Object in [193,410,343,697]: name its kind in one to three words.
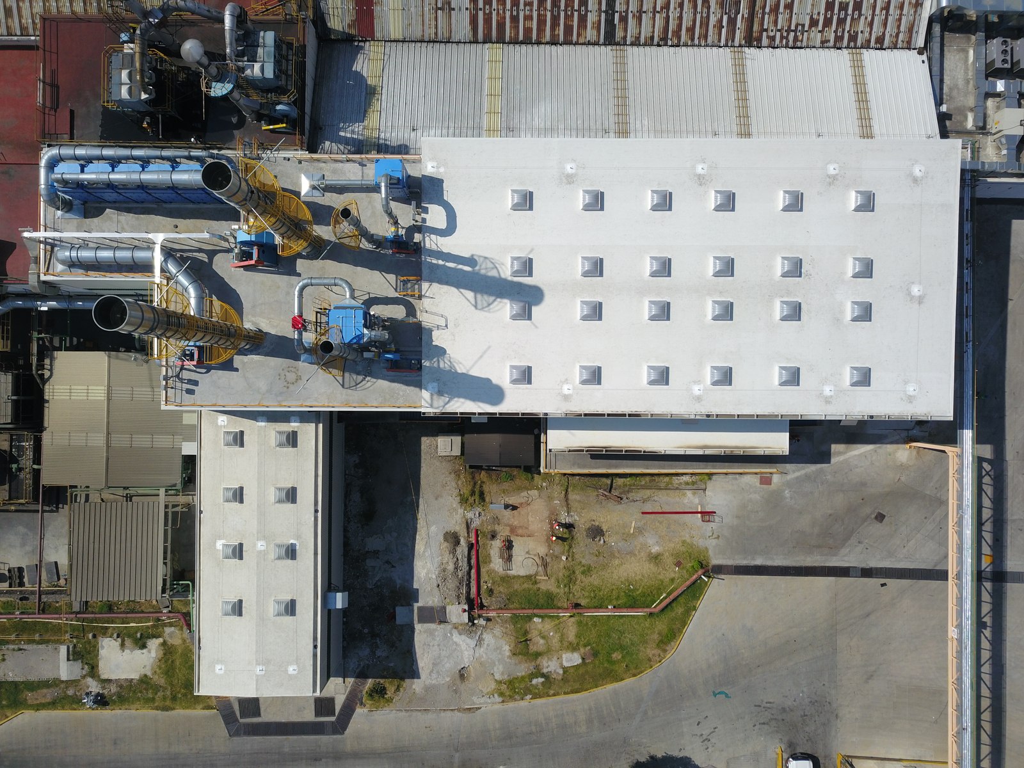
building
